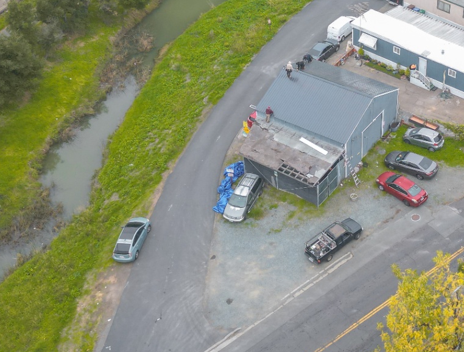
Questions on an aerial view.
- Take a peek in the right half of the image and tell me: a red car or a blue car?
red car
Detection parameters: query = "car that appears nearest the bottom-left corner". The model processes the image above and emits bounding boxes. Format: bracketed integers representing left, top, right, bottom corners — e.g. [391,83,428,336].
[113,221,150,265]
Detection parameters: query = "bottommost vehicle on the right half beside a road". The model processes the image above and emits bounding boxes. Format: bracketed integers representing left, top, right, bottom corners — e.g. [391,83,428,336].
[302,224,361,264]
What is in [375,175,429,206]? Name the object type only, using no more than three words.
car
